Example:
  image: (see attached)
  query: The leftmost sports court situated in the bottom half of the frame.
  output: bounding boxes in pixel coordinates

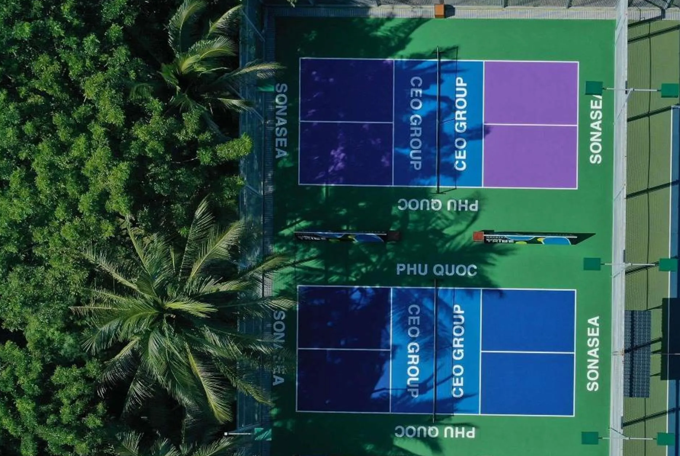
[274,263,600,438]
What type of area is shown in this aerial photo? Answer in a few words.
sports ground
